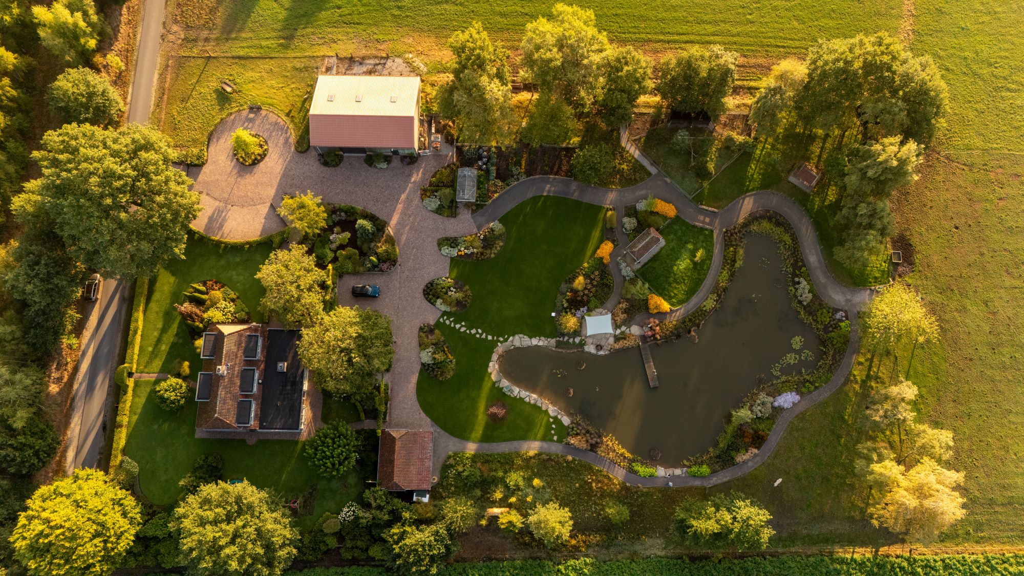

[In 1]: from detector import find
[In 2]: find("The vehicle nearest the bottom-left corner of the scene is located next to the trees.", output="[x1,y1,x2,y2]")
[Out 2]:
[81,274,106,304]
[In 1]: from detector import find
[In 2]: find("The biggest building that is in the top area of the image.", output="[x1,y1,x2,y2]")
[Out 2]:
[308,75,420,158]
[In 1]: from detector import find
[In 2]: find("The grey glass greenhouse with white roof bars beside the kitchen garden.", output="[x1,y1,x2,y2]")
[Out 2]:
[457,166,477,206]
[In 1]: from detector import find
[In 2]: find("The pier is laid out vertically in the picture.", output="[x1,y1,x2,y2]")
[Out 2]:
[641,338,659,386]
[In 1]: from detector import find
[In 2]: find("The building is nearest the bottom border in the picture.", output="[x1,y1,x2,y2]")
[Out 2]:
[377,429,435,489]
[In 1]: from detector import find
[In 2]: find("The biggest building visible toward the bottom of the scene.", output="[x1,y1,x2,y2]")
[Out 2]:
[194,327,309,433]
